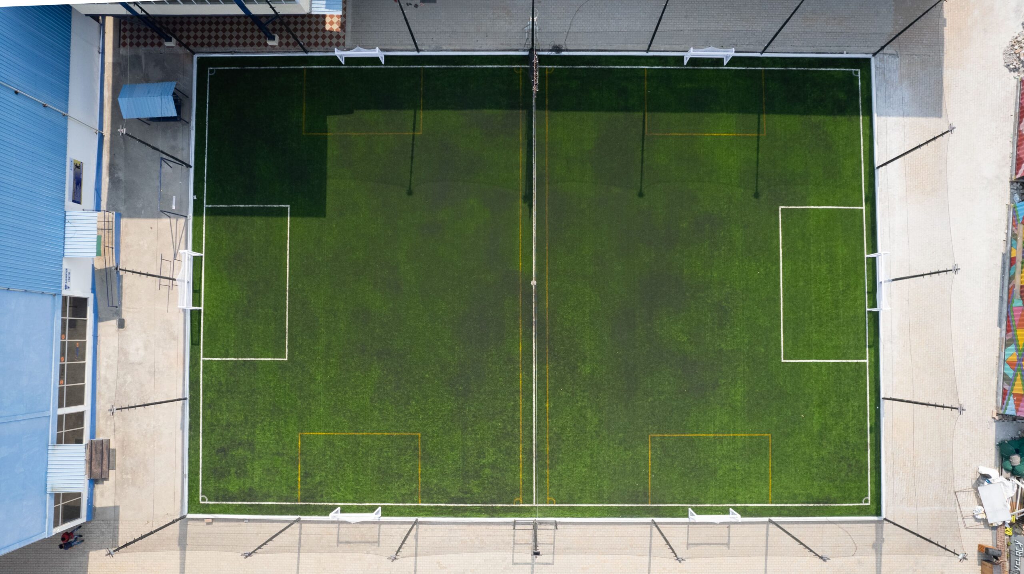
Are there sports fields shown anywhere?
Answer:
Yes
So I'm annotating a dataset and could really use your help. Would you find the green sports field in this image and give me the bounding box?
[182,53,880,517]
